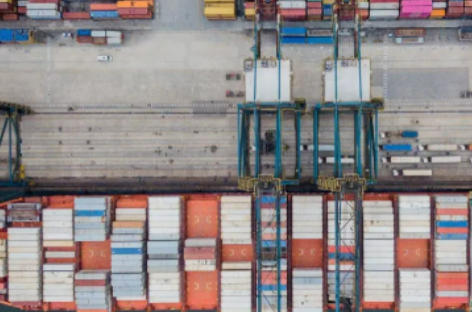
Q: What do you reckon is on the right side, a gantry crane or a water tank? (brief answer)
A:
gantry crane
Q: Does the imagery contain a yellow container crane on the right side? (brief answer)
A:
No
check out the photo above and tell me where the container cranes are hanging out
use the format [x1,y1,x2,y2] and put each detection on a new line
[0,97,44,187]
[308,0,385,312]
[235,0,312,312]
